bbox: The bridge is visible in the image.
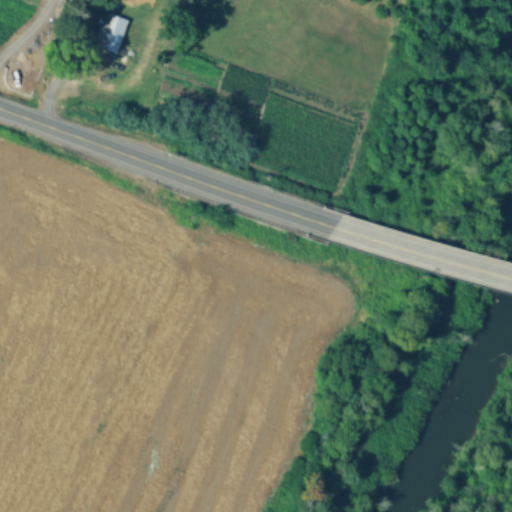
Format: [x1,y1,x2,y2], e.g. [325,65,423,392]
[332,212,512,294]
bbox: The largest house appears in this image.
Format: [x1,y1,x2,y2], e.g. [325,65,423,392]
[88,12,130,52]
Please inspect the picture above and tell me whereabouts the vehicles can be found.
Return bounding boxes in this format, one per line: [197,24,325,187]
[101,72,117,82]
[12,70,22,89]
[112,62,126,71]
